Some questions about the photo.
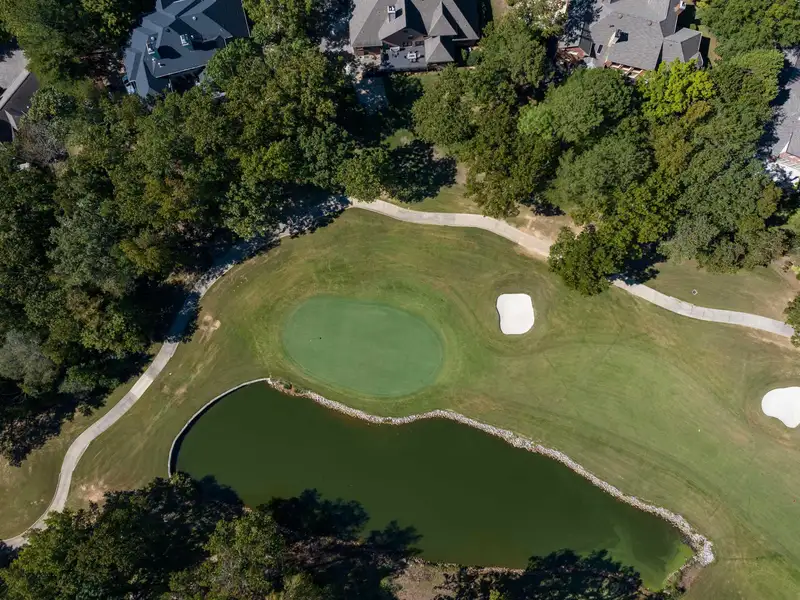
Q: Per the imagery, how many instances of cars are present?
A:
0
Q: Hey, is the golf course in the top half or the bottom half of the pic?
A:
bottom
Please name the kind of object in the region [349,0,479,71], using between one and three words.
house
